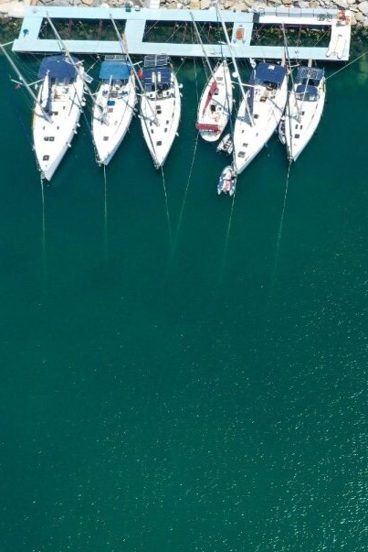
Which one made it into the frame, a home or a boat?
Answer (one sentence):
It is a boat that can be seen here.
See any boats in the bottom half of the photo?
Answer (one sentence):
No, no boat is visible in the bottom half of the photo.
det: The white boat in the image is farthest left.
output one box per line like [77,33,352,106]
[0,13,91,179]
